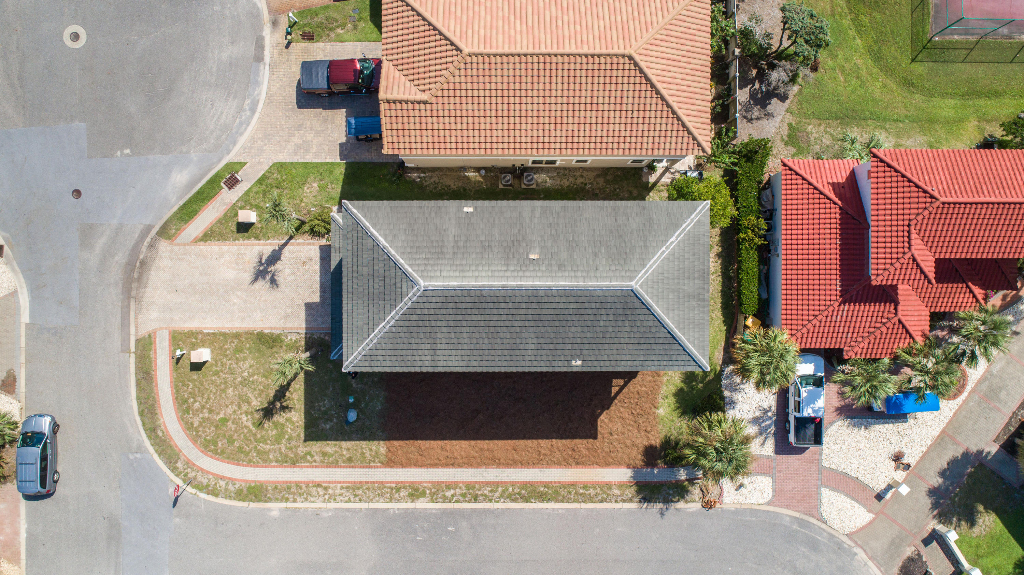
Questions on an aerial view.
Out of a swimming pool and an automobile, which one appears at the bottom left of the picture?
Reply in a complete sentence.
Looking at the bottom left of the picture, you will find an automobile.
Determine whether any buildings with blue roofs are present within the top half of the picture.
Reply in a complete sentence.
No, there is no building with a blue roof within the top half of the picture.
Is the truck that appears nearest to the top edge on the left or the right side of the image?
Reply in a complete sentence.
The truck that appears nearest to the top edge sits on the left side.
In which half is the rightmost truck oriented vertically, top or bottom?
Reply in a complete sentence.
You can find the rightmost truck oriented vertically in the bottom half.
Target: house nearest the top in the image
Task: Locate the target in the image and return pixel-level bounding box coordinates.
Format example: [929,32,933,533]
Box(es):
[375,0,713,174]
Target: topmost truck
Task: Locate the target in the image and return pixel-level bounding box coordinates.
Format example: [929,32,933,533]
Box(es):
[300,53,380,97]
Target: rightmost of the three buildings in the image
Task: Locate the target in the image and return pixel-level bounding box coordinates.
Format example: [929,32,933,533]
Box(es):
[767,146,1024,360]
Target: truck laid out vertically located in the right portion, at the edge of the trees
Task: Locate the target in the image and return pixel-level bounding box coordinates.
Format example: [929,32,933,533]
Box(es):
[784,353,828,446]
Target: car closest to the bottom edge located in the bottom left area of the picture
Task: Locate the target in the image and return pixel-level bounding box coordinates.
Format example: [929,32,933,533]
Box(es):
[13,412,63,496]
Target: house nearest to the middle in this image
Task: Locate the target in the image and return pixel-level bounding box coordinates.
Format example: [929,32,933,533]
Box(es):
[329,198,712,374]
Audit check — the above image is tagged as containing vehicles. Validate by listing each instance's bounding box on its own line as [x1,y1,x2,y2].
[865,388,940,415]
[13,412,63,496]
[784,353,828,446]
[300,53,380,97]
[346,115,380,143]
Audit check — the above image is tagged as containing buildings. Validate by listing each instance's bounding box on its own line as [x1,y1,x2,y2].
[767,146,1024,360]
[329,198,712,374]
[375,0,713,174]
